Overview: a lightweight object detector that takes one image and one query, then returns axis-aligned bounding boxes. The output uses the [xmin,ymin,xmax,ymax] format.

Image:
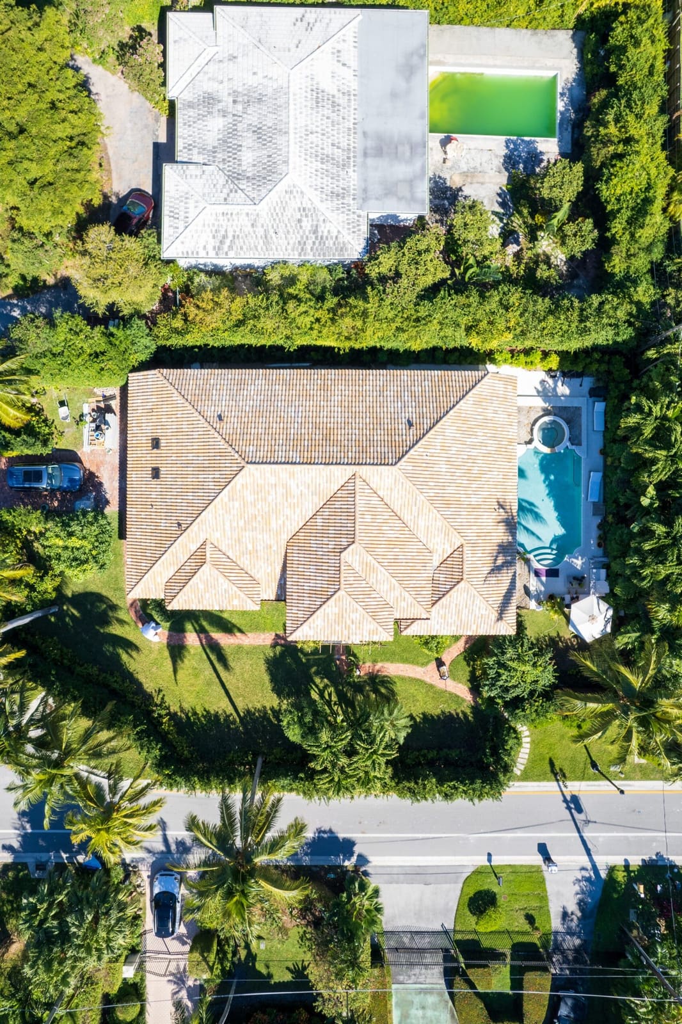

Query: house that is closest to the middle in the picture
[125,368,518,642]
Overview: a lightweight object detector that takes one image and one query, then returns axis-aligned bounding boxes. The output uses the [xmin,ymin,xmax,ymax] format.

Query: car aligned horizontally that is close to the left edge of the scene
[9,459,88,494]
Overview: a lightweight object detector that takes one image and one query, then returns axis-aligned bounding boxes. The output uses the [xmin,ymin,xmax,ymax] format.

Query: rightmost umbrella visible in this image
[569,595,612,643]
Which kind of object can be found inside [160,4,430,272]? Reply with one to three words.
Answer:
house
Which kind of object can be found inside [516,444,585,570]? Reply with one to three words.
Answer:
swimming pool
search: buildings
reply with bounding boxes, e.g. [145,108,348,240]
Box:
[125,368,518,642]
[160,4,430,272]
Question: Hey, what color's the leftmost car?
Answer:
blue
